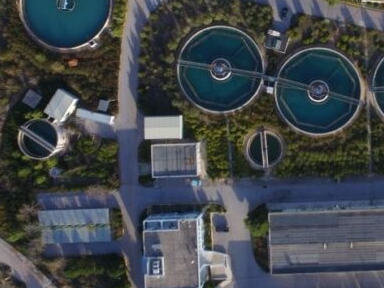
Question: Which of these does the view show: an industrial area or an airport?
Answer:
industrial area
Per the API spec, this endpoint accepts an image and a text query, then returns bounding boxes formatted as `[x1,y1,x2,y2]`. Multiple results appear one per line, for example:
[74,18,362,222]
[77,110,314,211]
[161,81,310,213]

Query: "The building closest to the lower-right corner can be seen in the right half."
[268,204,384,275]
